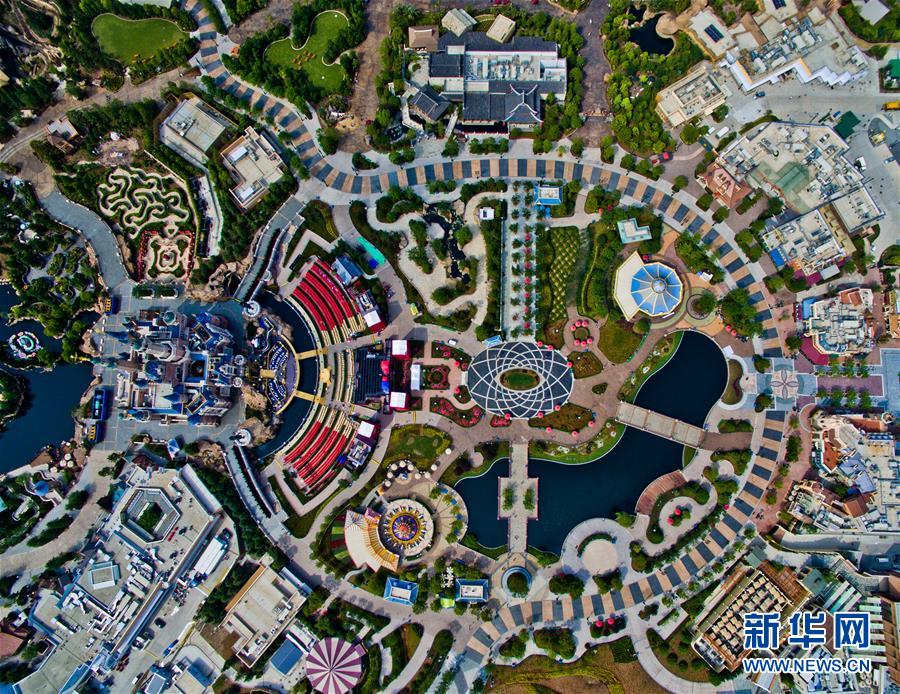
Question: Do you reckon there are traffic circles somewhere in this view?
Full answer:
Yes, a traffic circle appears in the view.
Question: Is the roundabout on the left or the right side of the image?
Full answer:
The roundabout appears in the right half of the scene.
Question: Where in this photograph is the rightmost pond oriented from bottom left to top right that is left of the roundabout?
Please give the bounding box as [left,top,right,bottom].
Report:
[459,335,728,554]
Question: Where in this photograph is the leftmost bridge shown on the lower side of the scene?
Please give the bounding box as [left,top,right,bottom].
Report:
[223,445,287,528]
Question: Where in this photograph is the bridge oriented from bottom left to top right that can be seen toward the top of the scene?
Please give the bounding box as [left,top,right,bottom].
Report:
[232,196,307,300]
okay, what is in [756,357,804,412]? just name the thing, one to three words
roundabout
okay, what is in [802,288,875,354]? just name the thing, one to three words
building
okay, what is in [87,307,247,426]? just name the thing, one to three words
building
